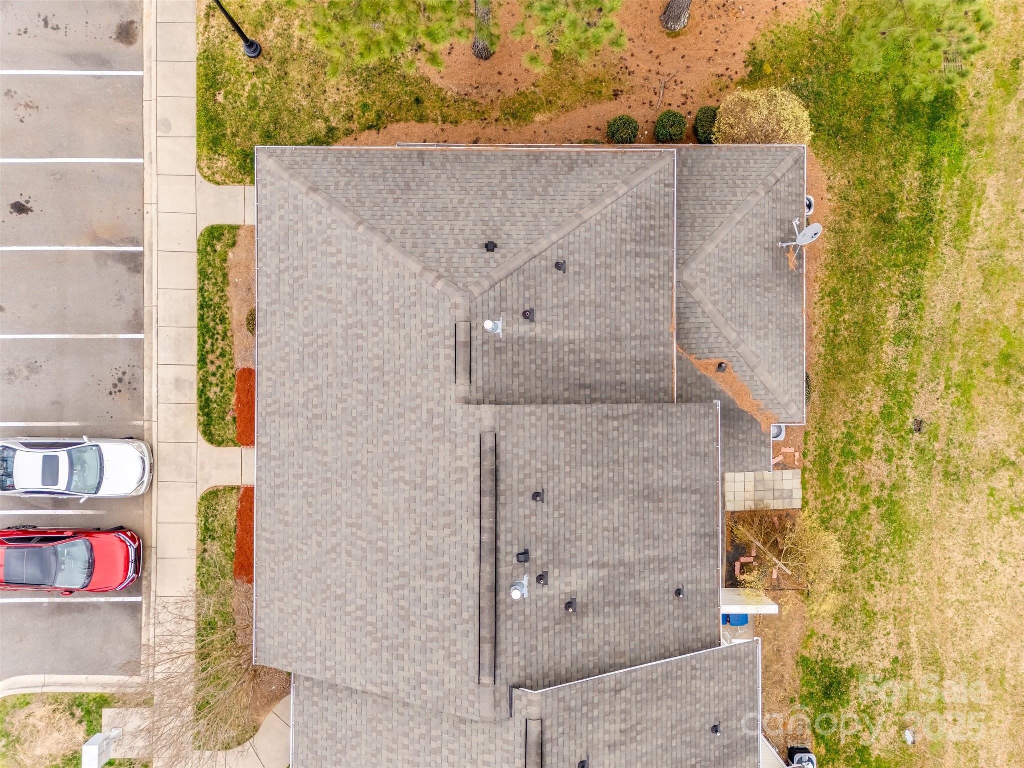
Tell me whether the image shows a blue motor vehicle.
No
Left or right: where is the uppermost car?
left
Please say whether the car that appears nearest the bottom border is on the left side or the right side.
left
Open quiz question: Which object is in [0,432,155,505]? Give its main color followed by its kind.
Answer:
white car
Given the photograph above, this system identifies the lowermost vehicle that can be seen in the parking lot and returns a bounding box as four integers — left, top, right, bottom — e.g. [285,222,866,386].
[0,524,143,600]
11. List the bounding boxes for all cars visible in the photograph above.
[0,432,155,505]
[0,524,143,600]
